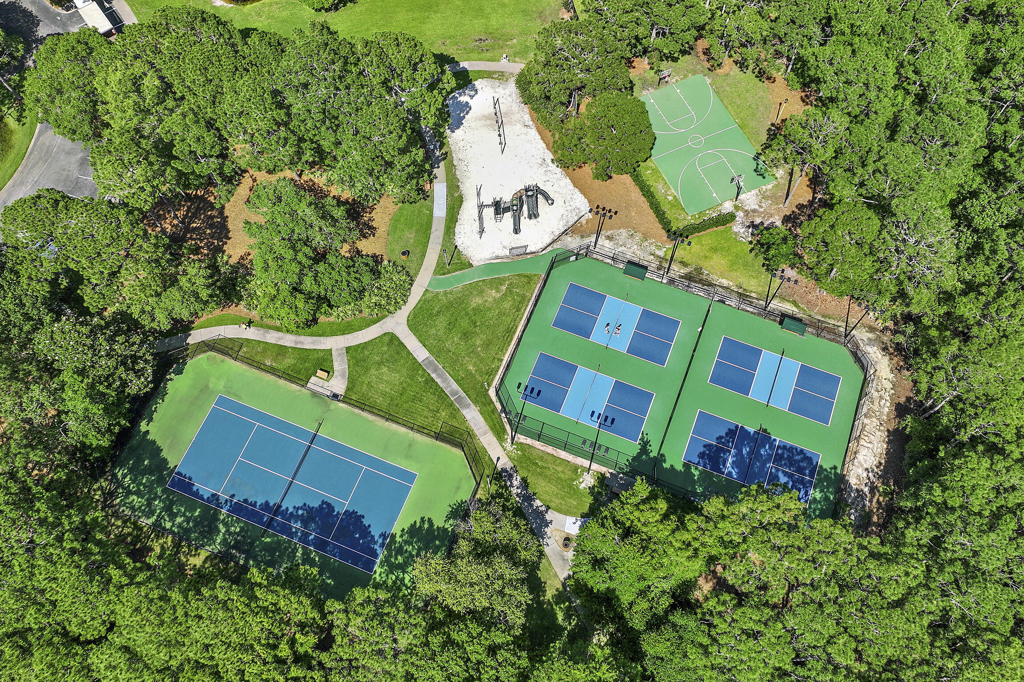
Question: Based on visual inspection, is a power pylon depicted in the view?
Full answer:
No, the scene contains no power pylon.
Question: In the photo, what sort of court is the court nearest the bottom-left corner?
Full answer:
I'd say the court nearest the bottom-left corner is a tennis court.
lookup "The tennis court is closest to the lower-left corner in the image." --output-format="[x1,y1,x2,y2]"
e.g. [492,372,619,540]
[103,352,477,624]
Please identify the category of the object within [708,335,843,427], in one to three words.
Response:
sports court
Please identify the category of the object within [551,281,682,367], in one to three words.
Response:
sports court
